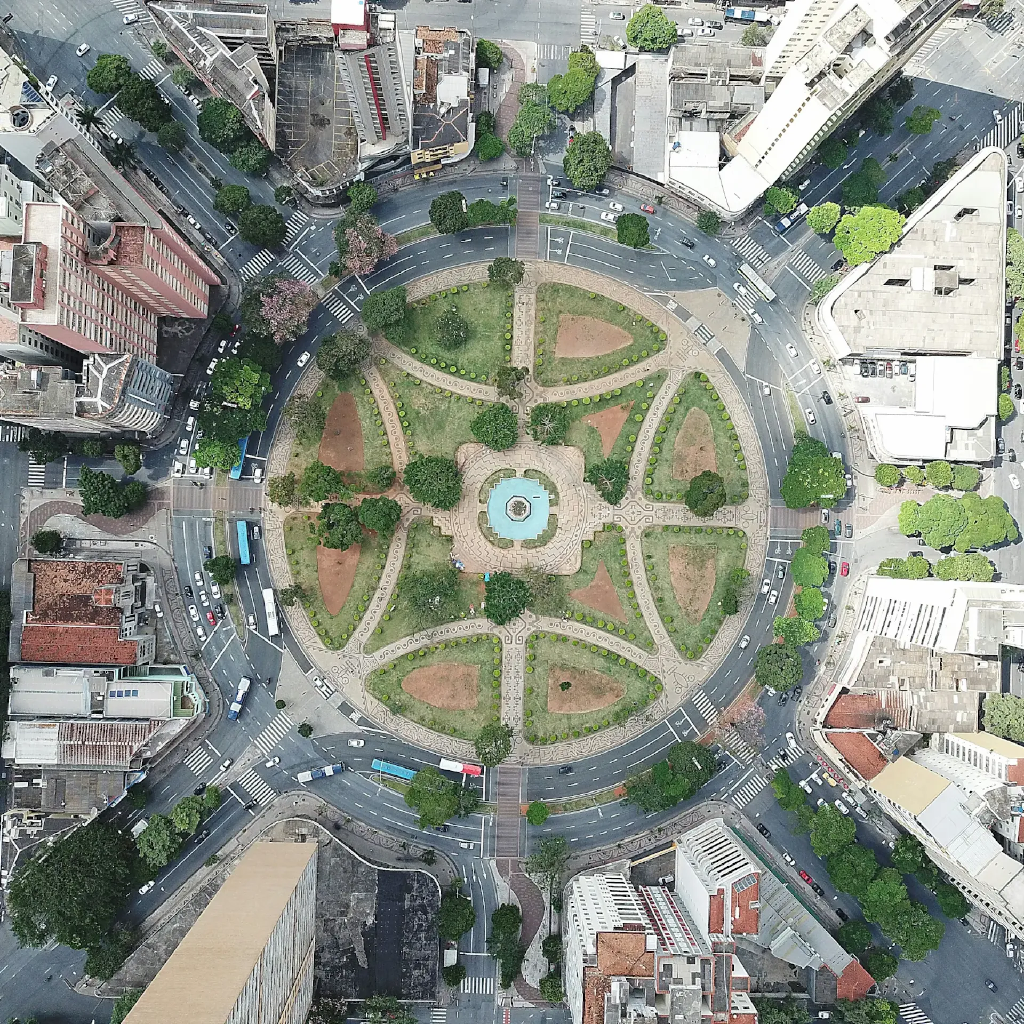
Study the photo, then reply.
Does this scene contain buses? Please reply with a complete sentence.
Yes, there's a bus here.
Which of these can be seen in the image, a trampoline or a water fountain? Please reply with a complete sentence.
I can see a water fountain in this picture.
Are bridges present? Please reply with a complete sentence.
No, the frame has no bridge in it.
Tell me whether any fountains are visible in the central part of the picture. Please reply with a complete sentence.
Yes, a fountain shows up in the central part of the picture.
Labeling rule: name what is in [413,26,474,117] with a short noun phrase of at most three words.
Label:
house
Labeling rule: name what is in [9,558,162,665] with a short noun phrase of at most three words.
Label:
building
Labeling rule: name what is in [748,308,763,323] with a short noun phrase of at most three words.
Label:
car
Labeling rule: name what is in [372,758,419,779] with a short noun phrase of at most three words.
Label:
bus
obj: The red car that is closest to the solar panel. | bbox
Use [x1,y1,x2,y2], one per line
[798,868,813,884]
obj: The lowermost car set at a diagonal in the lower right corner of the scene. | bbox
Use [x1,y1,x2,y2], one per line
[984,977,997,992]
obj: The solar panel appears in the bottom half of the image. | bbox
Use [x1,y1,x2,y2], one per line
[733,874,756,893]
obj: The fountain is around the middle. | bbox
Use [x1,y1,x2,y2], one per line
[487,477,550,541]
